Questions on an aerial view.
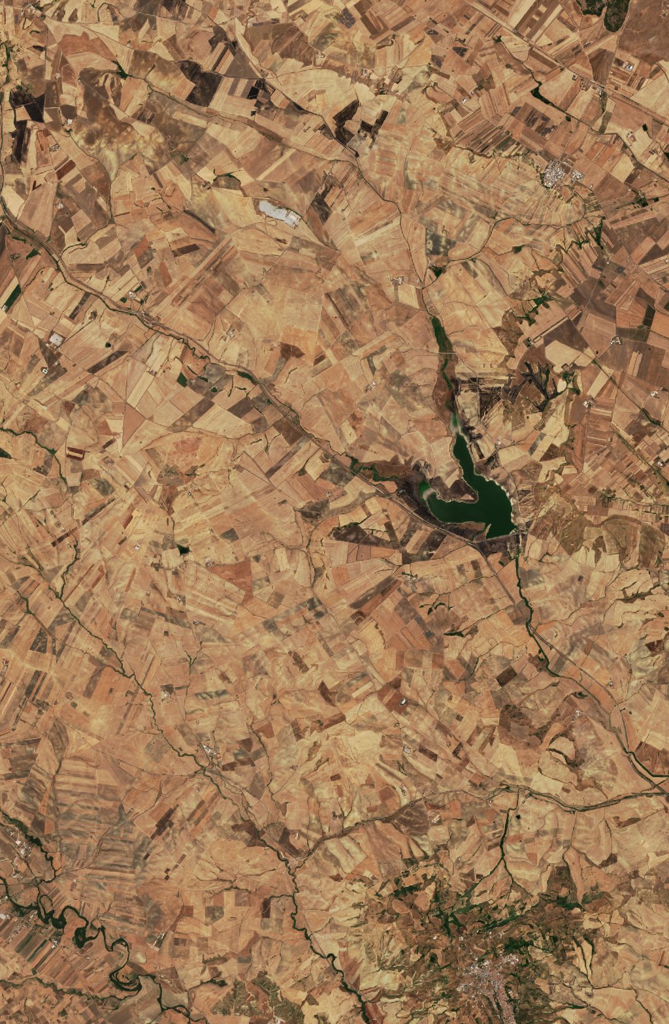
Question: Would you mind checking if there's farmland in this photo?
Yes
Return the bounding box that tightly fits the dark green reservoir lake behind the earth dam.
[426,435,516,537]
